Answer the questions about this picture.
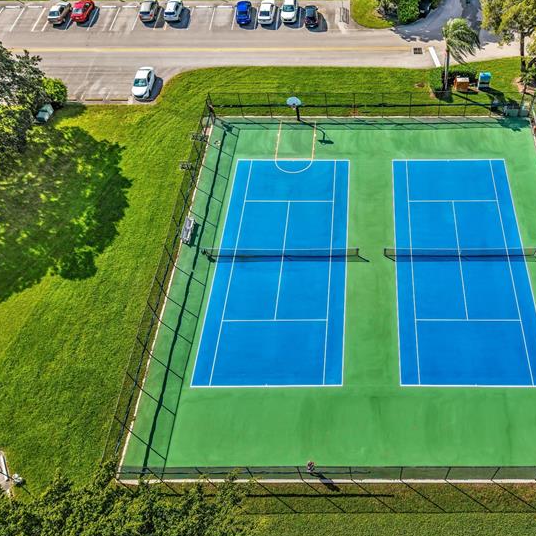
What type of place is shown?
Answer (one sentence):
It's a sports ground.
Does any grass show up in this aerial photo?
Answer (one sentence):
Yes, grass can be seen from above here.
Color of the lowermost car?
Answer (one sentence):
The lowermost car looks white in the image.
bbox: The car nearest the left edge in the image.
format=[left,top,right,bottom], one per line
[47,0,75,23]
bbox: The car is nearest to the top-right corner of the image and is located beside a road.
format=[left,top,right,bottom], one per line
[303,2,320,23]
